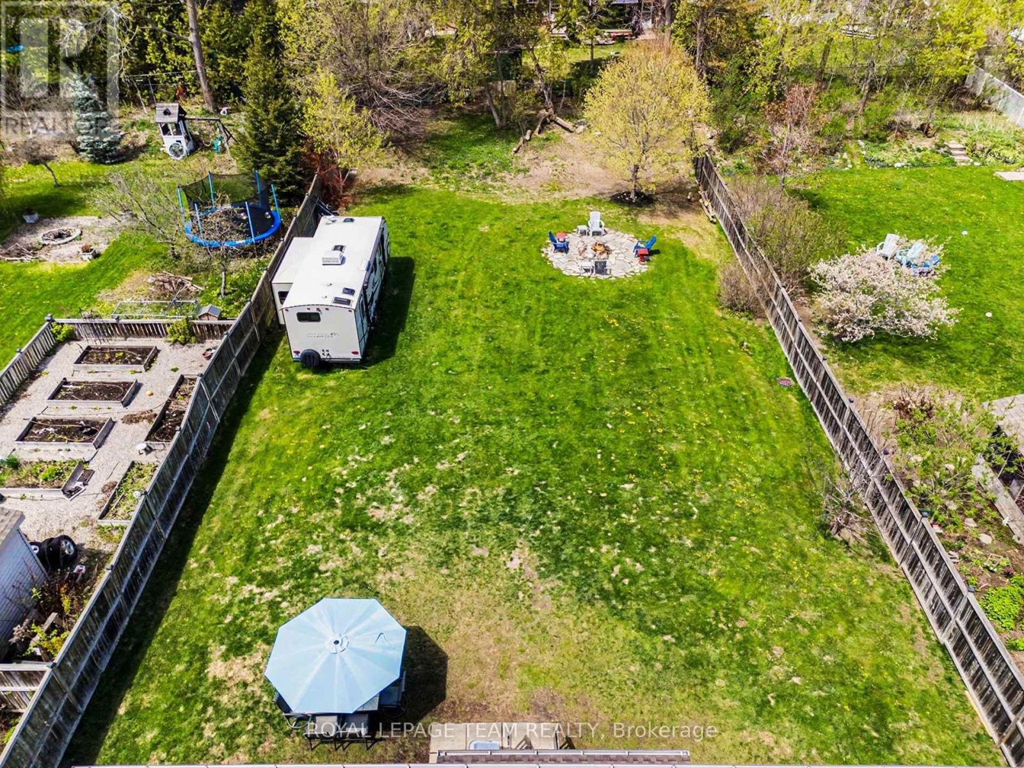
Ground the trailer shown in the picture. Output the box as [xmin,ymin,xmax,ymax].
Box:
[265,215,389,370]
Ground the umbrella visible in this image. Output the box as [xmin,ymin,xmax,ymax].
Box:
[263,600,409,724]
